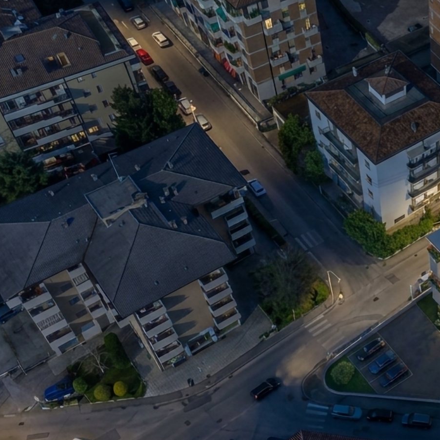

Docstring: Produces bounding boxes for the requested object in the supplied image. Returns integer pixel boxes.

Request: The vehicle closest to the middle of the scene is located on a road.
[248,178,265,198]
